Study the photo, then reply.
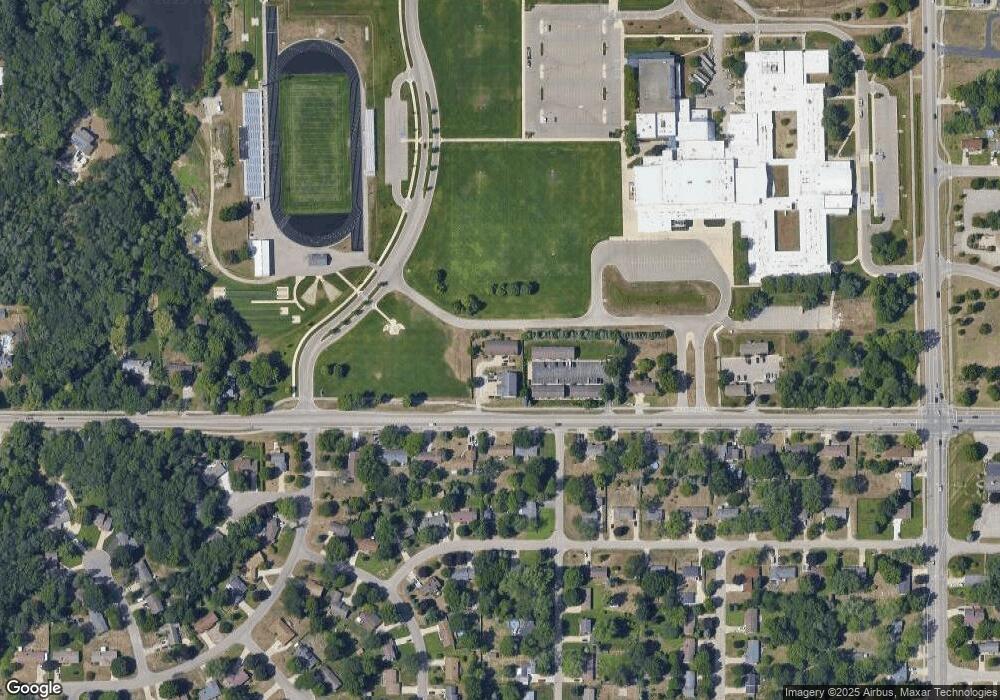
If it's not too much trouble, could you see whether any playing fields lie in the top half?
Yes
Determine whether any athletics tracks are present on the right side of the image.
No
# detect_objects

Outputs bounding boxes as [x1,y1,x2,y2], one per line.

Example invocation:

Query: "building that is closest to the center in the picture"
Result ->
[484,341,518,355]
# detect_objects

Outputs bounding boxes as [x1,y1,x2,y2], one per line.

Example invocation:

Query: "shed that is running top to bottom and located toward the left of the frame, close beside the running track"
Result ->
[254,239,270,276]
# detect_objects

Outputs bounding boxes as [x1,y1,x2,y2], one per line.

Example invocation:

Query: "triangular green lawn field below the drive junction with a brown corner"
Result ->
[315,294,472,398]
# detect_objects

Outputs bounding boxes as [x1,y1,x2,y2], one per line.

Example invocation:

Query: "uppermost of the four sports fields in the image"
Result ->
[418,0,521,139]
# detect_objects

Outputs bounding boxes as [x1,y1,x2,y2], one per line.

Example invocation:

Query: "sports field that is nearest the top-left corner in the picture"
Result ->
[279,73,351,215]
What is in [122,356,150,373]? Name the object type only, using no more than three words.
house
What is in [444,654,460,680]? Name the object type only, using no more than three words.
house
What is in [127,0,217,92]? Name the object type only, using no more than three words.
pond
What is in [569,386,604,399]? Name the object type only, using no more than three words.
building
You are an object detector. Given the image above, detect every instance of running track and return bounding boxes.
[265,8,364,250]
